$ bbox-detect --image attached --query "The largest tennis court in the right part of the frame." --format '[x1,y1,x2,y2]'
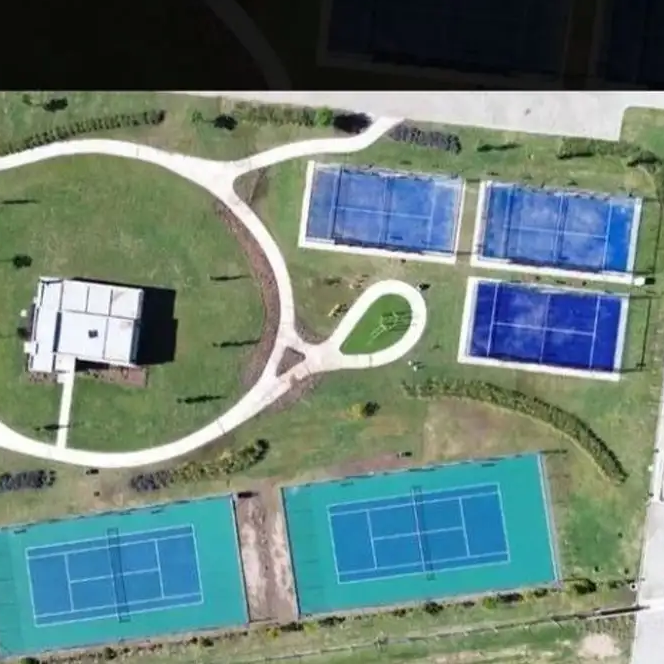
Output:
[278,450,566,618]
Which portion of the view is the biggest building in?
left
